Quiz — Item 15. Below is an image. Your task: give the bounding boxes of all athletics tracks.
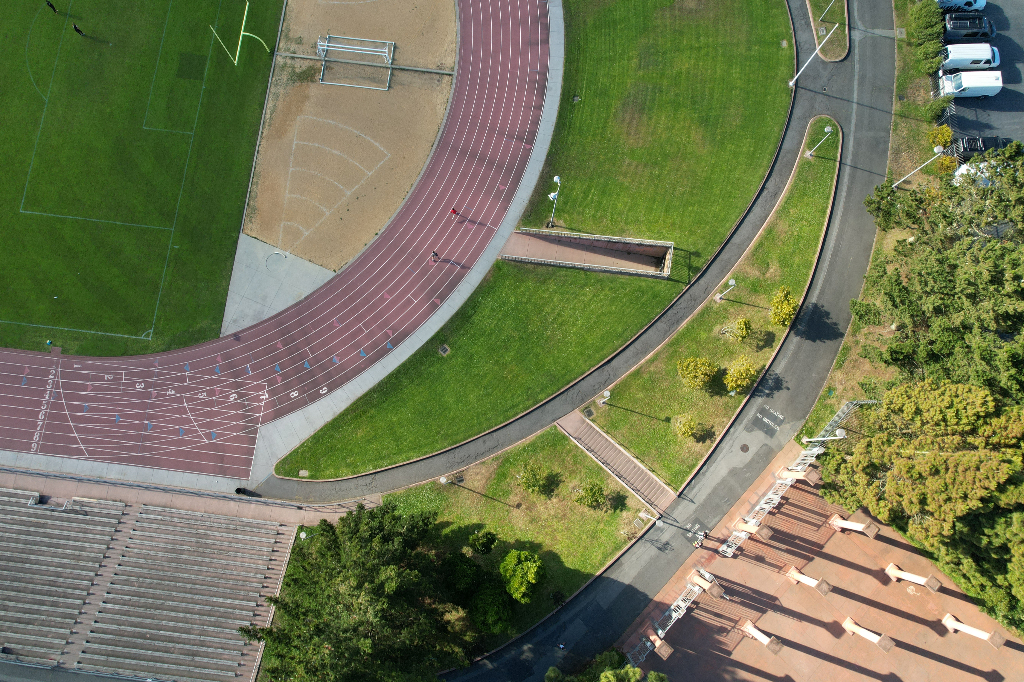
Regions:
[0,0,549,480]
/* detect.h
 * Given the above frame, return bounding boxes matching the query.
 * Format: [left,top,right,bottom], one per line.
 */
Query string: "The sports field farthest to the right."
[242,0,460,275]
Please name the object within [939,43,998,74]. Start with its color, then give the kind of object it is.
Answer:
white van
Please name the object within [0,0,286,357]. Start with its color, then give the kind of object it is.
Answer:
green soccer field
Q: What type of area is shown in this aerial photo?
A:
sports ground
